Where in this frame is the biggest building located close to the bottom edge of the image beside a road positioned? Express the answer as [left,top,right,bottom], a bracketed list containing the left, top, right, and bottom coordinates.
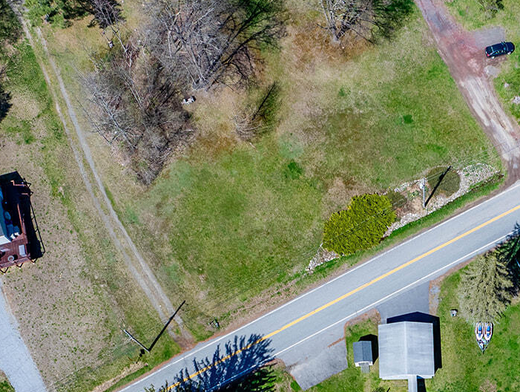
[378,321,434,379]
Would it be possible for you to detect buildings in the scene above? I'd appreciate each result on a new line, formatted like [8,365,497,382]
[353,340,373,371]
[0,182,32,267]
[378,321,434,379]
